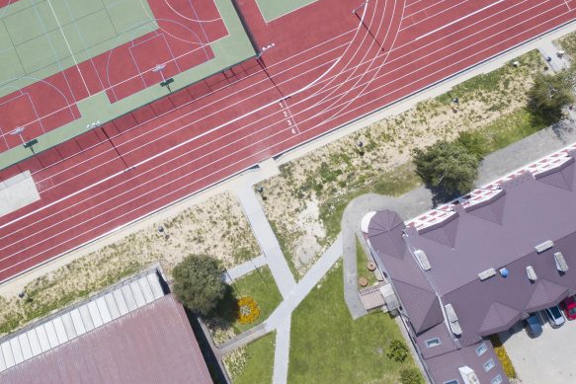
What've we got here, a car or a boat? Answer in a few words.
car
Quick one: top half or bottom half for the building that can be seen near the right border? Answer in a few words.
bottom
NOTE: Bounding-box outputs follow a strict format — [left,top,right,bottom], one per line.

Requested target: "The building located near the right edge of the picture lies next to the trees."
[355,141,576,384]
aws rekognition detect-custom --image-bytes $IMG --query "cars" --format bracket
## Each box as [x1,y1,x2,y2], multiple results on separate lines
[520,313,546,345]
[560,294,576,324]
[543,302,569,334]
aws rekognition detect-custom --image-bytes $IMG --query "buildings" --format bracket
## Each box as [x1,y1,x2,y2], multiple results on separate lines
[355,141,576,384]
[0,266,213,384]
